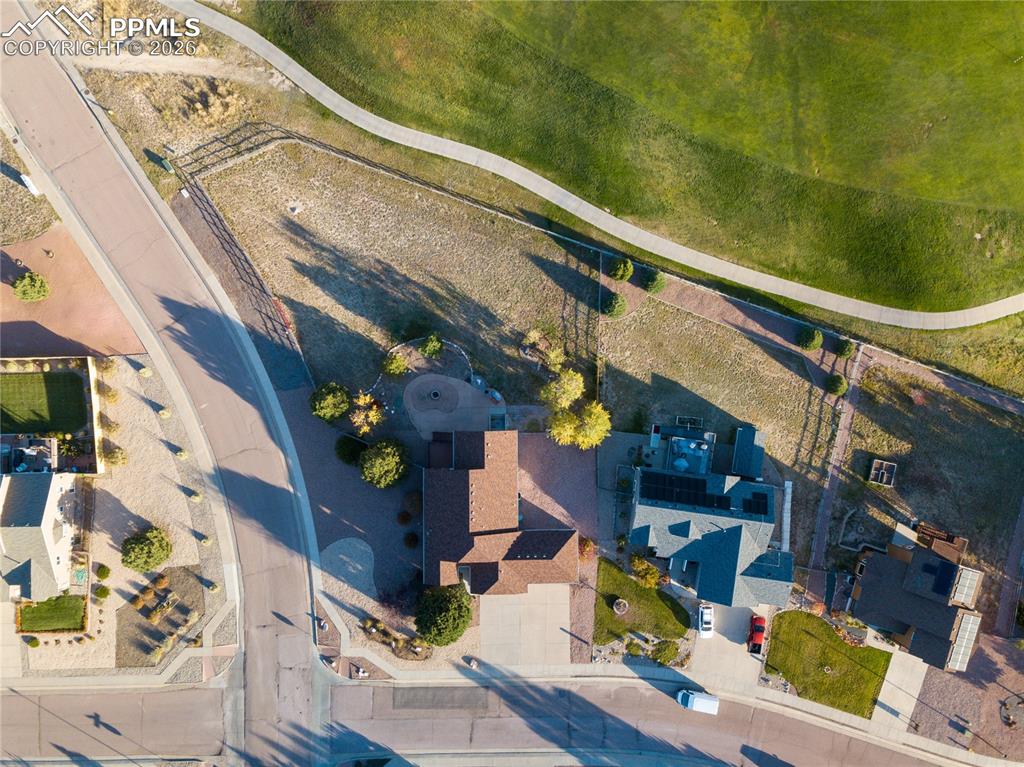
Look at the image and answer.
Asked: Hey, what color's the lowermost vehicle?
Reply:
white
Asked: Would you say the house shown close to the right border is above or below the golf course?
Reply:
below it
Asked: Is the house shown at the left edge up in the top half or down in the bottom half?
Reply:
bottom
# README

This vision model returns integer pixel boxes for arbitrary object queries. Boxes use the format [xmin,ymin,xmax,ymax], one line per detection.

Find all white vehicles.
[676,692,723,719]
[700,604,716,638]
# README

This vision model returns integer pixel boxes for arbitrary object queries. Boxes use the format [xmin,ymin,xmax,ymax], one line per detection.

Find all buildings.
[0,458,74,599]
[626,463,794,607]
[423,429,578,594]
[837,521,976,669]
[735,429,770,477]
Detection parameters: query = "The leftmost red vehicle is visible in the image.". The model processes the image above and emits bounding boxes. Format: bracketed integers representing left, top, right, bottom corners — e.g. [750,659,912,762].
[746,616,768,658]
